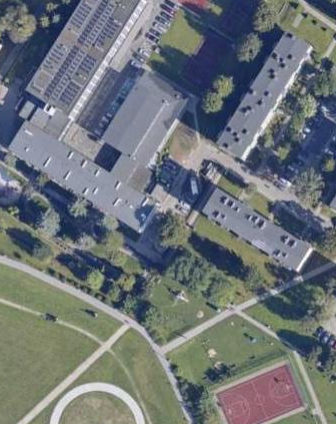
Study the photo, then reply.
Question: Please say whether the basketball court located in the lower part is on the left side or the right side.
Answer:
right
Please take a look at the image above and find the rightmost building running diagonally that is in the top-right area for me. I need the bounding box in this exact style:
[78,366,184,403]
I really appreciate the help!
[216,33,313,162]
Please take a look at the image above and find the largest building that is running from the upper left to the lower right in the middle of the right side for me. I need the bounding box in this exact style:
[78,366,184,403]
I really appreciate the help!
[202,187,311,274]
